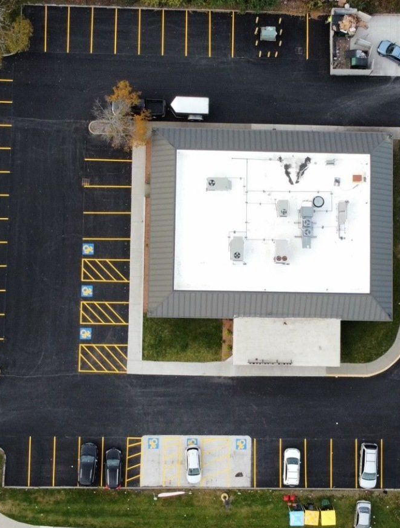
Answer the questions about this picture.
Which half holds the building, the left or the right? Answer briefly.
right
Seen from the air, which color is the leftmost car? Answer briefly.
black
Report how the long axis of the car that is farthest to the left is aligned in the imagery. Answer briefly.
up and down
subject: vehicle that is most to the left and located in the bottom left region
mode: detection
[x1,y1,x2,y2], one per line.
[79,442,99,487]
